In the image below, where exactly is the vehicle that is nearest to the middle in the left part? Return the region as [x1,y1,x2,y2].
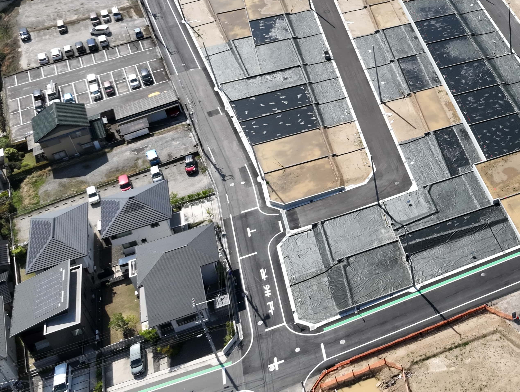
[184,155,198,173]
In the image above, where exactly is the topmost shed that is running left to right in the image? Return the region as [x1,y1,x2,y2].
[111,86,179,123]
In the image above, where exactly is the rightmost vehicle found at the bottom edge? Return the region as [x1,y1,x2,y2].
[129,341,146,378]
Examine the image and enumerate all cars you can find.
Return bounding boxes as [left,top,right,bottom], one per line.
[63,43,74,56]
[133,25,143,38]
[36,51,51,67]
[75,40,85,54]
[33,87,45,101]
[146,149,160,166]
[89,81,102,100]
[111,3,122,19]
[57,19,68,32]
[119,251,130,274]
[139,66,153,85]
[51,46,61,59]
[149,164,166,182]
[100,8,111,21]
[86,37,97,51]
[85,184,101,203]
[91,12,100,24]
[98,34,109,46]
[44,81,59,100]
[118,173,132,192]
[103,79,114,95]
[19,26,31,41]
[34,98,45,114]
[129,341,146,378]
[53,364,71,392]
[128,72,141,90]
[63,90,75,103]
[88,72,98,83]
[184,155,198,173]
[89,24,113,35]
